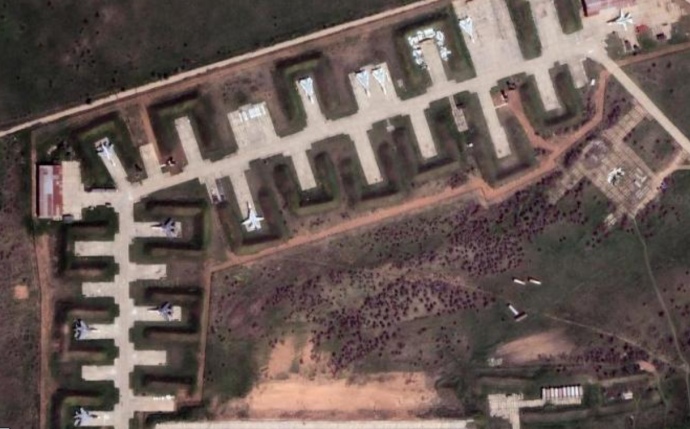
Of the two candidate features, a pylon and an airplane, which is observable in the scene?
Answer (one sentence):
Looking from above, you can make out an airplane.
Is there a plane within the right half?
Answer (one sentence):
Yes, I can see a plane within the right half.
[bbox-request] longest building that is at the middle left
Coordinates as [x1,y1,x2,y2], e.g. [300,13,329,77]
[38,164,63,218]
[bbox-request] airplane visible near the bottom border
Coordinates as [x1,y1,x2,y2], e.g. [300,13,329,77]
[73,408,100,426]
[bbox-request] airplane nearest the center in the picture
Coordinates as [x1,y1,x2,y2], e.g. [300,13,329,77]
[241,202,263,232]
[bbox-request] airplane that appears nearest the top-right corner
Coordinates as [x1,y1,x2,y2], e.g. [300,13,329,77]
[606,10,635,32]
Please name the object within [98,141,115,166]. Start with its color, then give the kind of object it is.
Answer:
white airplane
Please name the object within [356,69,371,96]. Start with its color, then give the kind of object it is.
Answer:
white airplane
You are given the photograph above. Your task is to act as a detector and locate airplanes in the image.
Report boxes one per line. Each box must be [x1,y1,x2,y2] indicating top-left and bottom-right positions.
[98,141,115,166]
[150,220,177,238]
[148,303,173,321]
[241,202,263,232]
[300,77,313,104]
[73,408,100,426]
[356,69,371,96]
[371,67,385,95]
[73,322,100,339]
[460,18,474,43]
[606,10,635,32]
